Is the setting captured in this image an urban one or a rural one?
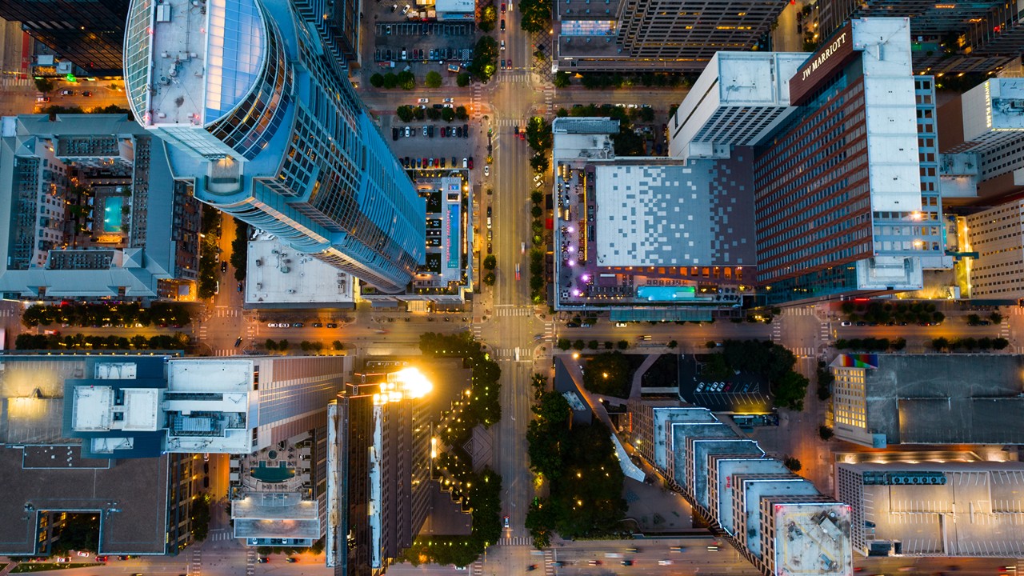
urban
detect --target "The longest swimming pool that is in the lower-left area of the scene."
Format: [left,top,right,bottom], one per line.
[250,467,296,482]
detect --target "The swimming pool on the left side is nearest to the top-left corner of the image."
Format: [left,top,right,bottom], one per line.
[104,197,122,232]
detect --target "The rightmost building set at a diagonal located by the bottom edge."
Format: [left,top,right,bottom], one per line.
[628,398,855,576]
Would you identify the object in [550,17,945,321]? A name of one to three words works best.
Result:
building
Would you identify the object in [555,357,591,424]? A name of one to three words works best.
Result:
building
